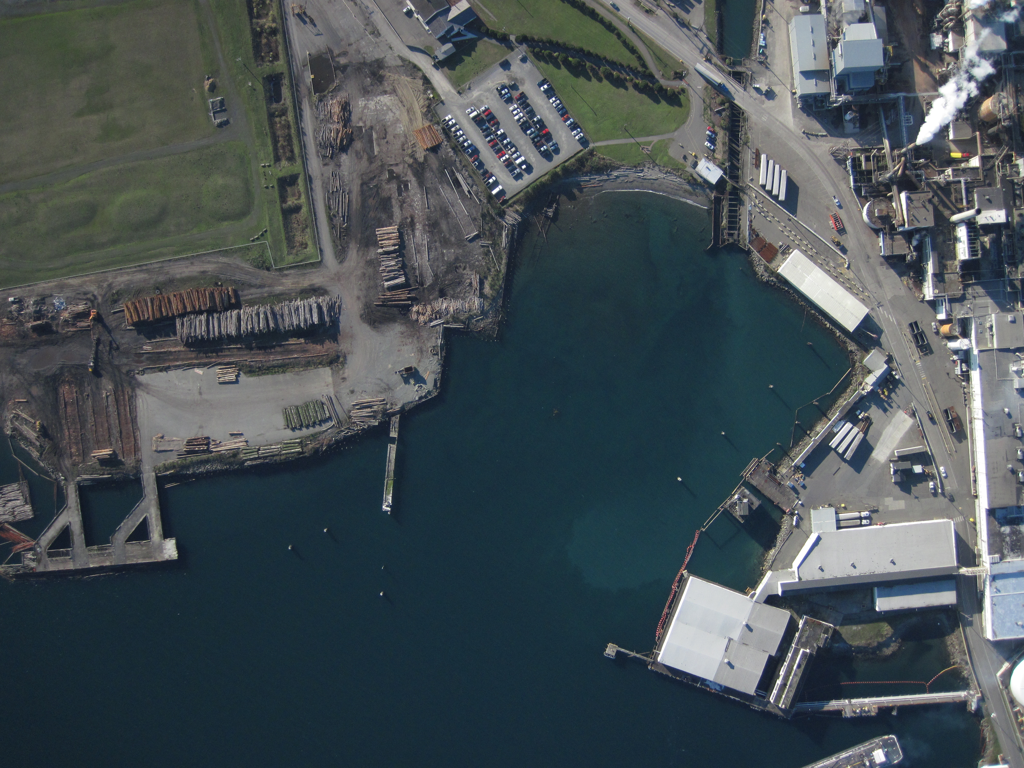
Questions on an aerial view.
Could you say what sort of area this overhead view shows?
port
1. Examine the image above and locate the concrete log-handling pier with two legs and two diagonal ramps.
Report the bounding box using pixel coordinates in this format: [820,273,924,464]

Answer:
[34,472,178,573]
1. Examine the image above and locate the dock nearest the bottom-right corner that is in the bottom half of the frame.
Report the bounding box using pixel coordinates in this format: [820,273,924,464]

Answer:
[794,690,981,717]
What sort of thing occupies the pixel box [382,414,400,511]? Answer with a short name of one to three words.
pier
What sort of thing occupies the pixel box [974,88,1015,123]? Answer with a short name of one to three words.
storage tank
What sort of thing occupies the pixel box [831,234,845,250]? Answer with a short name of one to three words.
work vehicle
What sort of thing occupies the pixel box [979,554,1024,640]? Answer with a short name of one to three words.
building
